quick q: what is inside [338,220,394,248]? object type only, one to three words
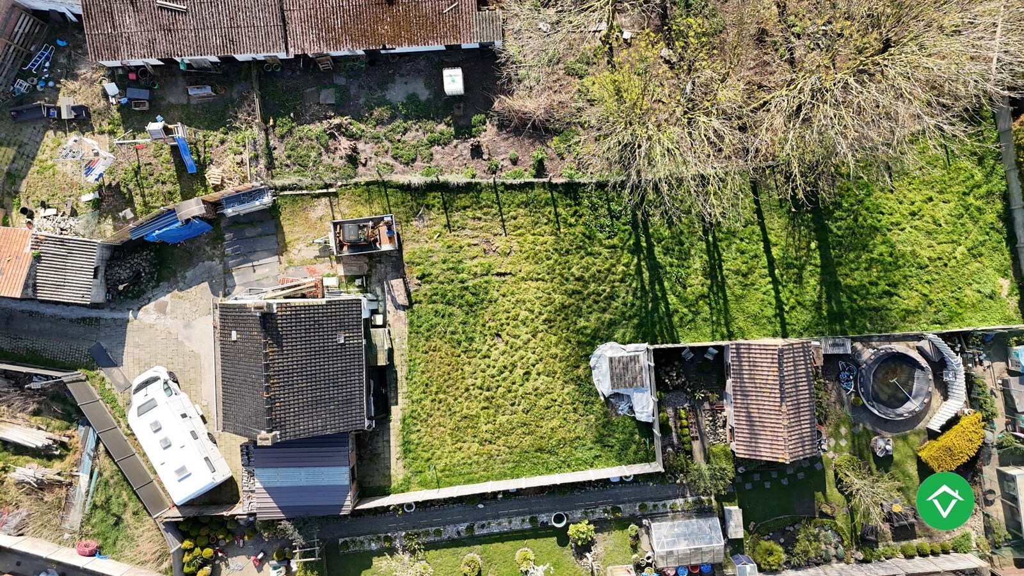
work vehicle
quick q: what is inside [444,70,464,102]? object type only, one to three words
water tank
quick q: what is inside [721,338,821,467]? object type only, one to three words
house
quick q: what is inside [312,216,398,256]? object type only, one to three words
trailer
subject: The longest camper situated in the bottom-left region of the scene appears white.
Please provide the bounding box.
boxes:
[127,361,230,501]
